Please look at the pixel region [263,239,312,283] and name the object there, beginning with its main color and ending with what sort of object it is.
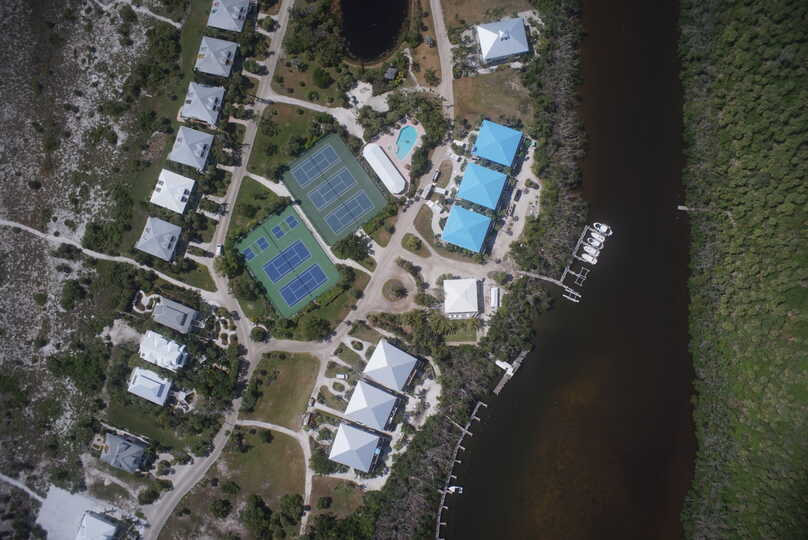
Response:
blue tennis court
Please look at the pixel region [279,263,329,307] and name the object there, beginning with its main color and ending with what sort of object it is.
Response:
blue tennis court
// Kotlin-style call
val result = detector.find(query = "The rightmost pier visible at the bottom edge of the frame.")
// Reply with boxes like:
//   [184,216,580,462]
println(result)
[436,402,488,540]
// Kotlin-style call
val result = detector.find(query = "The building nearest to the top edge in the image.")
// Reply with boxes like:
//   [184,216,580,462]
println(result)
[208,0,256,36]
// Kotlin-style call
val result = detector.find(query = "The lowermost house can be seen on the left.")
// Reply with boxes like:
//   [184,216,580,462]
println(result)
[77,510,126,540]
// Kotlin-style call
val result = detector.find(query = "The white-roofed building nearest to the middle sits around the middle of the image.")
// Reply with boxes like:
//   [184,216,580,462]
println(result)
[443,279,478,317]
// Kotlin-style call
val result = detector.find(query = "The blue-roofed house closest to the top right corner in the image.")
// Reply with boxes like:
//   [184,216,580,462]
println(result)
[473,119,524,168]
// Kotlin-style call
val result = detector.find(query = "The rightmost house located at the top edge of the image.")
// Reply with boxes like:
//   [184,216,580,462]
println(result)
[477,17,528,67]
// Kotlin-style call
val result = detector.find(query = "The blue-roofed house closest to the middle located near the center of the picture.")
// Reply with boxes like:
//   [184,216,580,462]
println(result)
[441,205,493,253]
